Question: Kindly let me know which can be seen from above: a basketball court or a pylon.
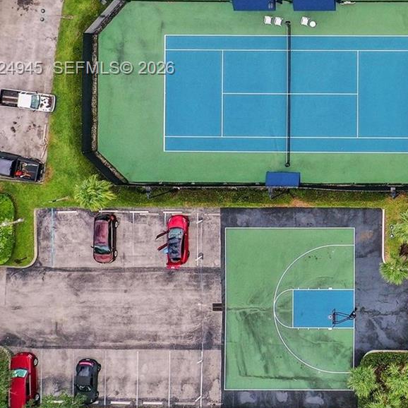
basketball court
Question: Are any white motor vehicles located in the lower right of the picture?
No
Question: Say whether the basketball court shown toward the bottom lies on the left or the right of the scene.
right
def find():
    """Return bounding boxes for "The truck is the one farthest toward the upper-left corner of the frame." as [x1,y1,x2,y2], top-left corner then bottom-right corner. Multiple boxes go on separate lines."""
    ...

[0,89,54,116]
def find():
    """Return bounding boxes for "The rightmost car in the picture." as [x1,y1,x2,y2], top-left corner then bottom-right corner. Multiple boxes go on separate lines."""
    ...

[153,215,190,273]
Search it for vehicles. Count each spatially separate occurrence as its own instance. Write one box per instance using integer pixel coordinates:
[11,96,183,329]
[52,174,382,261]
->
[0,153,44,184]
[8,357,36,408]
[153,215,190,273]
[0,89,54,116]
[72,358,98,404]
[87,214,116,264]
